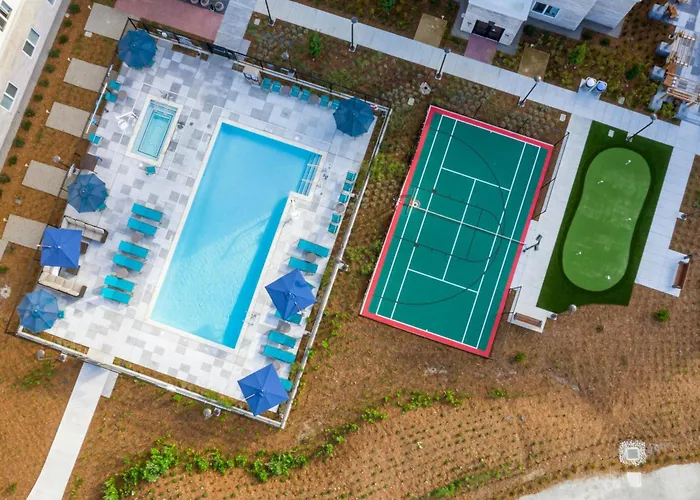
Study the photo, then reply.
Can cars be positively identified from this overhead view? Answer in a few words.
No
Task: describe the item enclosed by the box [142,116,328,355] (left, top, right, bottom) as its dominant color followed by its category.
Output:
blue swimming pool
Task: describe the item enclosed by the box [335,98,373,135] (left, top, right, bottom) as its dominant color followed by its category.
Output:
blue umbrella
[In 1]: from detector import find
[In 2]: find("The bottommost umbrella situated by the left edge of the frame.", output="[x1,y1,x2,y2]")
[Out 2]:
[18,289,59,330]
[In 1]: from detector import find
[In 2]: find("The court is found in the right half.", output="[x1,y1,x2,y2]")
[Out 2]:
[360,105,553,356]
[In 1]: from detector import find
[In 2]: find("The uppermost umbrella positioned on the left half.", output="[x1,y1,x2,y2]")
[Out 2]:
[118,30,158,68]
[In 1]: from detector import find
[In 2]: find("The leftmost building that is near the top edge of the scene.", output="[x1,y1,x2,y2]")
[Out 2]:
[0,0,63,154]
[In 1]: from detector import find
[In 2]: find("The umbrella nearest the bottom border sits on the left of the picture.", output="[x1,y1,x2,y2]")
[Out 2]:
[237,363,289,416]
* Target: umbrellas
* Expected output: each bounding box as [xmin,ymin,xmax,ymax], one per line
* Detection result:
[118,30,158,68]
[237,363,289,416]
[335,98,373,135]
[38,229,84,268]
[18,289,59,330]
[68,174,107,213]
[266,269,317,326]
